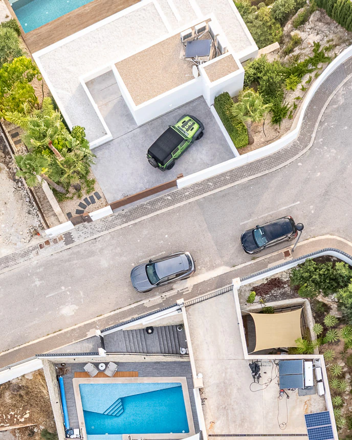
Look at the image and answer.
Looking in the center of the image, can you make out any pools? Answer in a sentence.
No, no pool can be made out in the center of the image.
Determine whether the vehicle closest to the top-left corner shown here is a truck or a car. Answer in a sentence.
I'd identify the vehicle closest to the top-left corner as a car.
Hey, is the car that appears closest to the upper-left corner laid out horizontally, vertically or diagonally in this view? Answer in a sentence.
What the image shows is the car that appears closest to the upper-left corner lying diagonally.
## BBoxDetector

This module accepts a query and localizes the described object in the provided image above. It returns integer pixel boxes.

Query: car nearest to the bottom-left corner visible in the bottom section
[130,249,197,293]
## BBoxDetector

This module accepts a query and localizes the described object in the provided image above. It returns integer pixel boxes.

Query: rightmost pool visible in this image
[73,378,194,440]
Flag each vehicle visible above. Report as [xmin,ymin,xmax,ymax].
[238,214,301,255]
[145,111,206,174]
[130,249,197,293]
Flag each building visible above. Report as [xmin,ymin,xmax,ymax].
[183,287,340,440]
[33,0,258,156]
